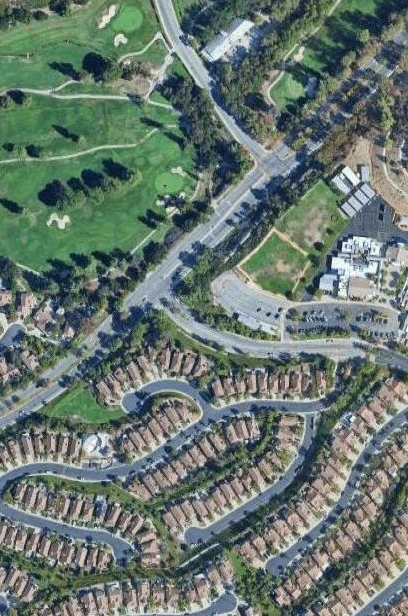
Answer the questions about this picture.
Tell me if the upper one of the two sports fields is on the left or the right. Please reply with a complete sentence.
The upper one of the two sports fields is on the right side of the image.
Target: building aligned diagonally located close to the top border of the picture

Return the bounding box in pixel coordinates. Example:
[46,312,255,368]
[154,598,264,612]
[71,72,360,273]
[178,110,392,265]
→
[203,17,254,61]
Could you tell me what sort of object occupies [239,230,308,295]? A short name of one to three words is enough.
sports field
